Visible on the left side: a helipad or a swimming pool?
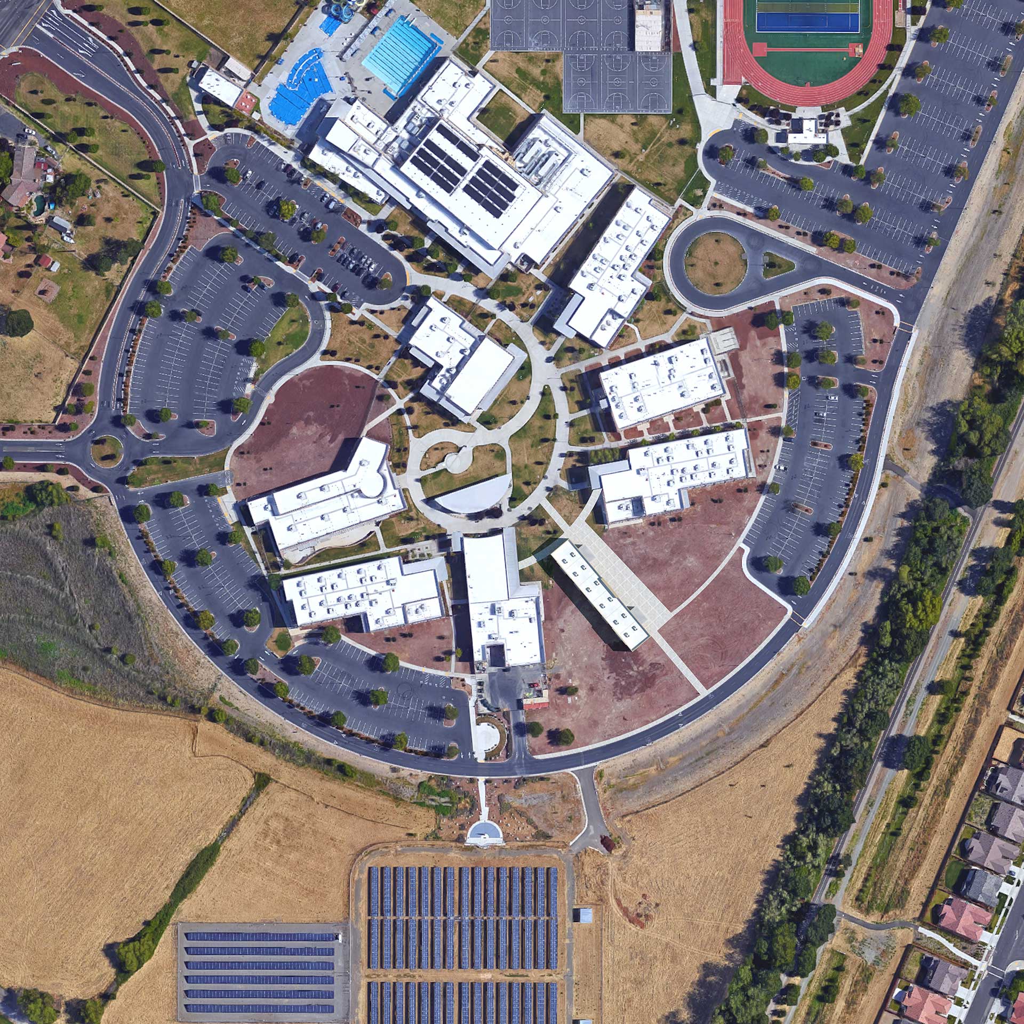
swimming pool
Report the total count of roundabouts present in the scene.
2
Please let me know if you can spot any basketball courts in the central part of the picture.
No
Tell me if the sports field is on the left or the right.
right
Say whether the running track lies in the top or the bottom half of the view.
top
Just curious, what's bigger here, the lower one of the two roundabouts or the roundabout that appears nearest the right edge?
the roundabout that appears nearest the right edge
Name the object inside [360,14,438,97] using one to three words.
swimming pool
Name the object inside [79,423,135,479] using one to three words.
roundabout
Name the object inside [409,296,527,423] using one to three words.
building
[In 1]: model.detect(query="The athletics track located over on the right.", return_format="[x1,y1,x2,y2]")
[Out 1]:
[723,0,893,106]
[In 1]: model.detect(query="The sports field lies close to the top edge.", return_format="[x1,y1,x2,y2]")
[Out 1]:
[744,0,873,86]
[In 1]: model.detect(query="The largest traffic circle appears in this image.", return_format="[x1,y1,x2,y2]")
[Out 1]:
[672,218,763,310]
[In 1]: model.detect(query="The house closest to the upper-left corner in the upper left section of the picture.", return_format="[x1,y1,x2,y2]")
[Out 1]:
[1,147,42,207]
